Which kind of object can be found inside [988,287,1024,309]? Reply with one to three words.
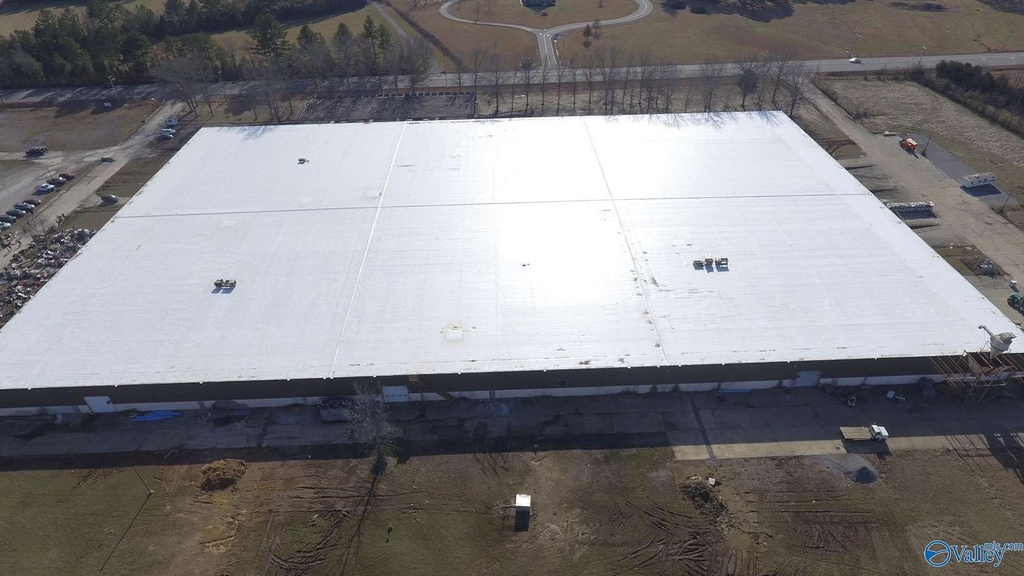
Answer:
work vehicle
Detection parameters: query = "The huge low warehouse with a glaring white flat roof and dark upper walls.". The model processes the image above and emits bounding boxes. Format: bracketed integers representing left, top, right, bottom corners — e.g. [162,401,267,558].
[0,110,1024,416]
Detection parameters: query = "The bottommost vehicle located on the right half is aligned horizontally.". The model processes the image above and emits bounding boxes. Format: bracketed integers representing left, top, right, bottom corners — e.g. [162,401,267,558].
[838,422,894,446]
